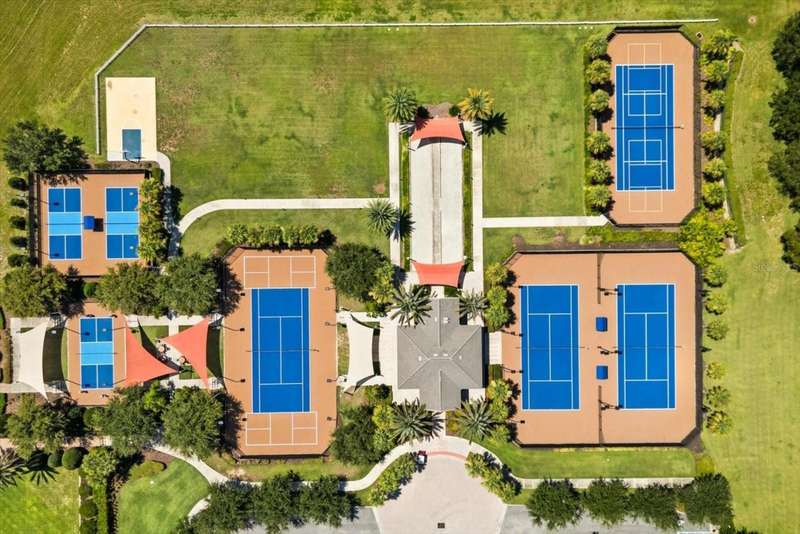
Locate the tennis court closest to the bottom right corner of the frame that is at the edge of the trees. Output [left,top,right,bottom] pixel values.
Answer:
[502,252,697,444]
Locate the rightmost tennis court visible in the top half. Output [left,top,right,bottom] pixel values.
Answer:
[609,33,695,223]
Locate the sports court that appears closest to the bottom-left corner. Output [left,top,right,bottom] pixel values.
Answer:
[66,303,125,404]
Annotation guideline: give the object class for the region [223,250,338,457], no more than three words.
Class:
tennis court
